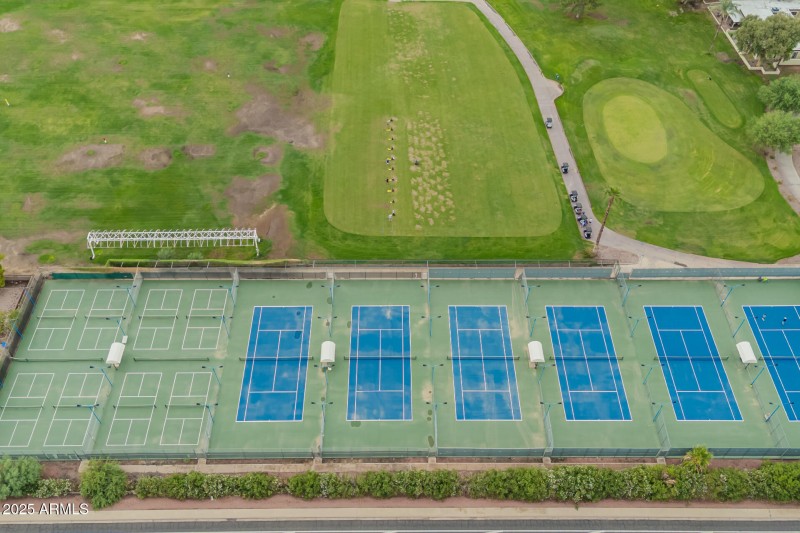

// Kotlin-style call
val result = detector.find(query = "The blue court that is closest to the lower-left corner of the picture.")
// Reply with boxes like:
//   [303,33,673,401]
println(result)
[236,306,314,420]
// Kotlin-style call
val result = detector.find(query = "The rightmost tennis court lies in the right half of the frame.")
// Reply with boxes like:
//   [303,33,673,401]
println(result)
[743,306,800,420]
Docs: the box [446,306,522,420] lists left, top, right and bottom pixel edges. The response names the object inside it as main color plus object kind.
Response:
blue tennis court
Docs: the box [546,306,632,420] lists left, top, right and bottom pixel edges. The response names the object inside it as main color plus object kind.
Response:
blue tennis court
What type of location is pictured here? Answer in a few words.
golf course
